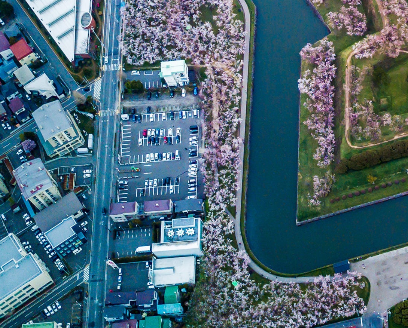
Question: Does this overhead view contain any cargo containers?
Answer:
No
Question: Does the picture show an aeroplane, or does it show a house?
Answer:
house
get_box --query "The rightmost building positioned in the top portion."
[160,61,189,87]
